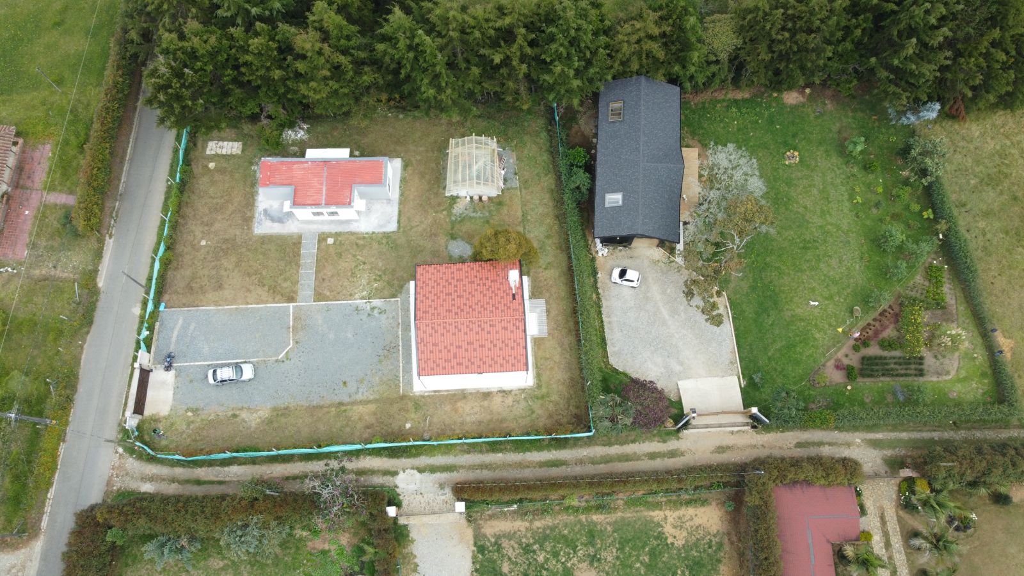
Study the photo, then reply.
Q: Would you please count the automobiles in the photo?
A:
2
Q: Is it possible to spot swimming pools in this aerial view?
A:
No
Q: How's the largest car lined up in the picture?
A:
horizontally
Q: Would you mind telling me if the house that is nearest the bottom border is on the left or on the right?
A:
right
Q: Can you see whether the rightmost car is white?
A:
Yes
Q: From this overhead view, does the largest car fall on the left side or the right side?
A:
left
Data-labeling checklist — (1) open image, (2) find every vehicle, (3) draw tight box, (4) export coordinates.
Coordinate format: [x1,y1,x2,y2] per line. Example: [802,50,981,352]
[161,352,172,371]
[206,362,253,386]
[610,265,644,288]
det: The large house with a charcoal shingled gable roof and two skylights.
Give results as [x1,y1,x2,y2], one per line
[594,75,685,252]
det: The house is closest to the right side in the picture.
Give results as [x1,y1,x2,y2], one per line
[771,486,860,576]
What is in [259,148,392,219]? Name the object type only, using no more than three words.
house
